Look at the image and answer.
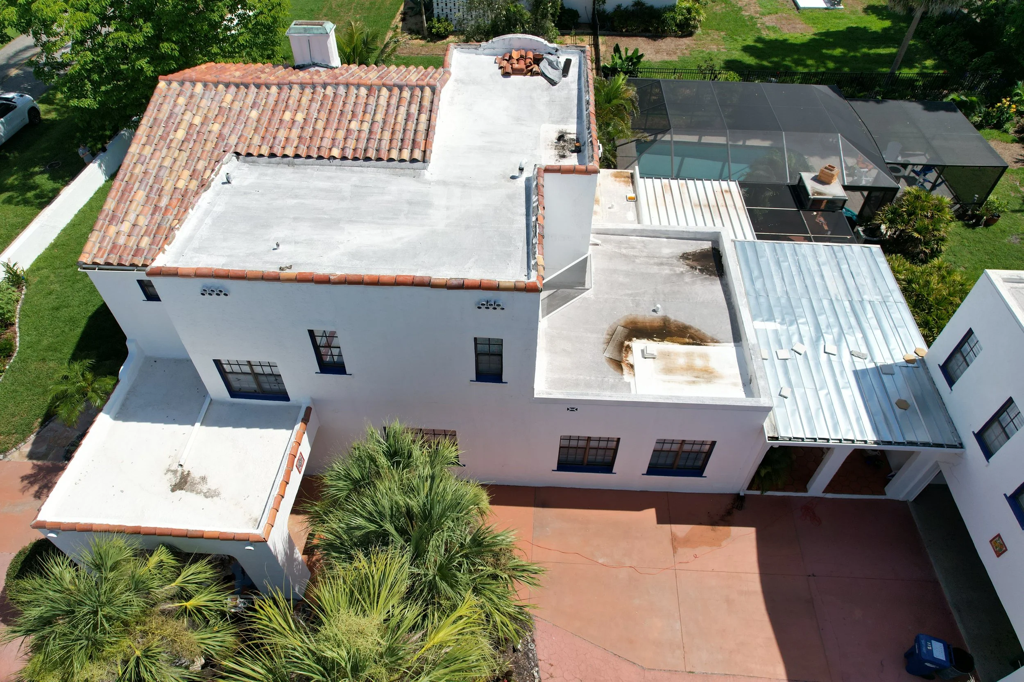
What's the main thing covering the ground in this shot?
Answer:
buildings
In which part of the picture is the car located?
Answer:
top left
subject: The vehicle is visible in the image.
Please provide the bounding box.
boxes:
[0,97,41,141]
